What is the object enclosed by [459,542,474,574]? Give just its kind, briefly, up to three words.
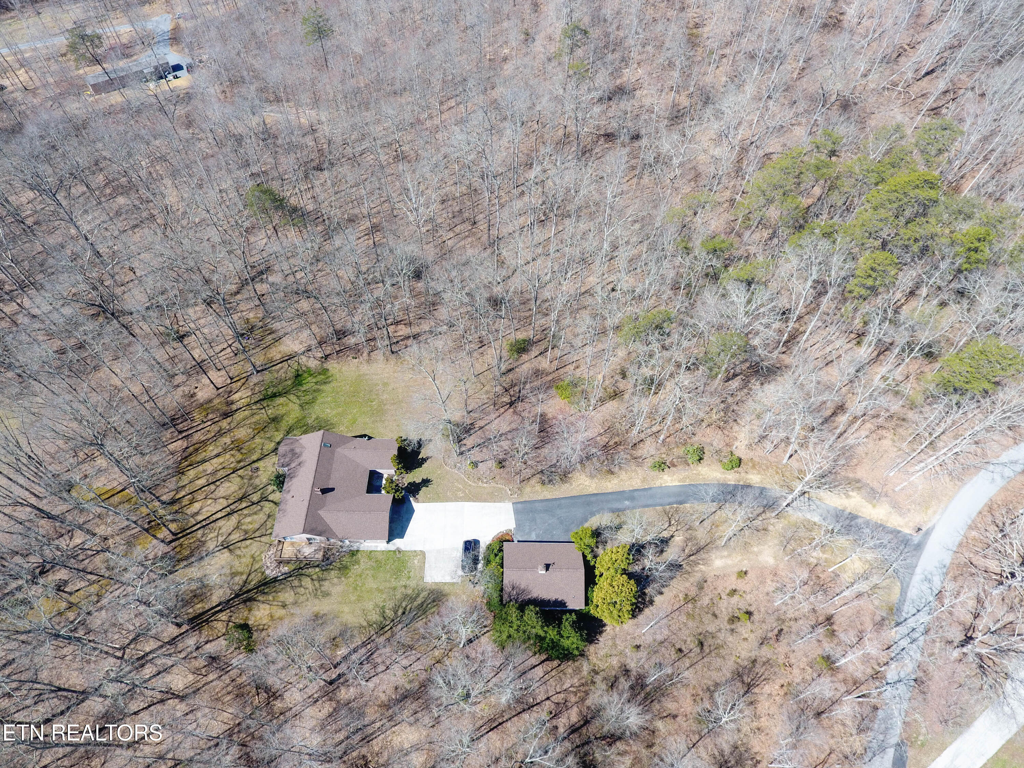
car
